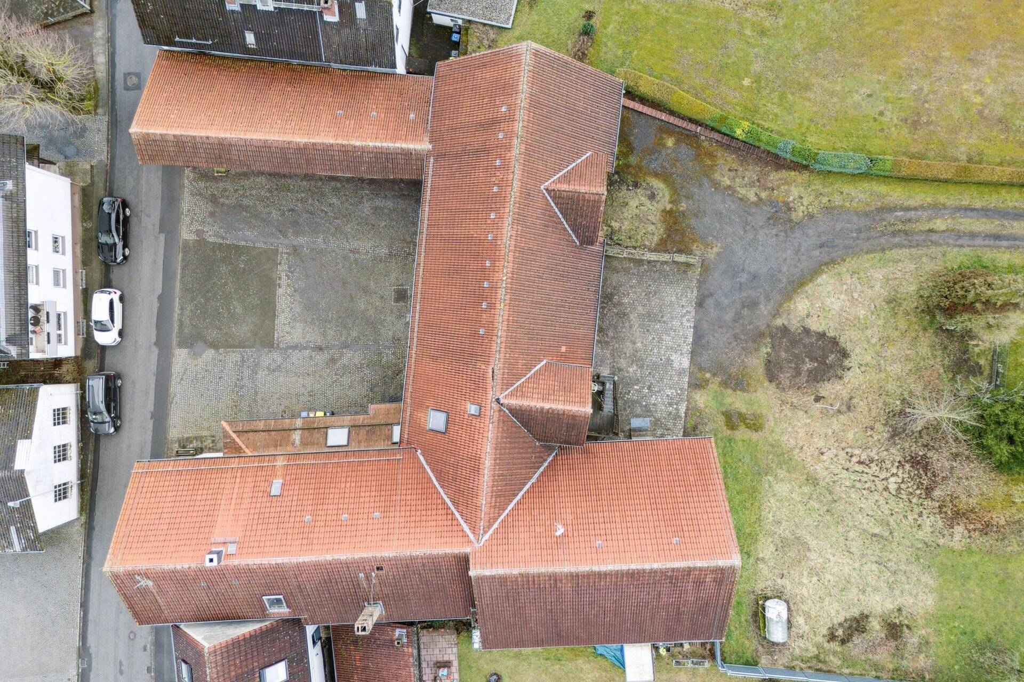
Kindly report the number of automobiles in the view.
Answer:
3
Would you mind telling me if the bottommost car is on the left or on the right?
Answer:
left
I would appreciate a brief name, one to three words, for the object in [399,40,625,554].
barn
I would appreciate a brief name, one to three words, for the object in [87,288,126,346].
car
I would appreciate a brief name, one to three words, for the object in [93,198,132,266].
car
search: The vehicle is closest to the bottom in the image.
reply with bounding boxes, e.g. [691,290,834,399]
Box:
[84,371,125,435]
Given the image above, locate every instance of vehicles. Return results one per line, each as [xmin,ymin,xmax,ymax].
[87,288,126,346]
[93,198,132,266]
[84,371,125,435]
